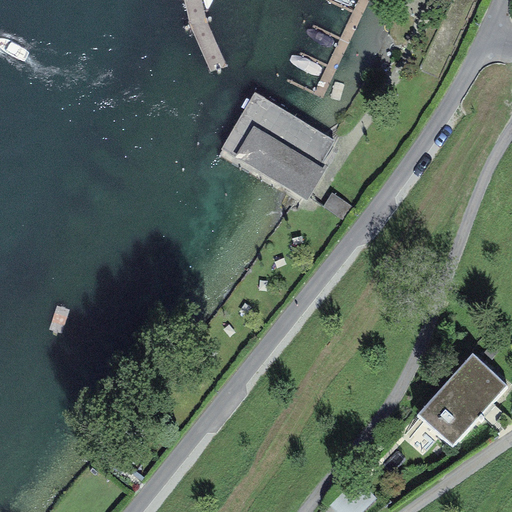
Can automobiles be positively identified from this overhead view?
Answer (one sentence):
Yes, the picture does show an automobile.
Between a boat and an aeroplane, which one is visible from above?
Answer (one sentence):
The image shows a boat.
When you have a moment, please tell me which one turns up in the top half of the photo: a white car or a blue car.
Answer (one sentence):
It is a blue car that can be seen in the top half of the photo.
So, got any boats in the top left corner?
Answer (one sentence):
Yes, I can see a boat in the top left corner.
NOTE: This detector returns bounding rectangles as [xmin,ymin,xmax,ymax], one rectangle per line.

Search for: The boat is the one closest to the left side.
[0,40,30,62]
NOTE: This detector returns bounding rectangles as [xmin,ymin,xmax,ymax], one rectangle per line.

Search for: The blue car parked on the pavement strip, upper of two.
[434,124,452,146]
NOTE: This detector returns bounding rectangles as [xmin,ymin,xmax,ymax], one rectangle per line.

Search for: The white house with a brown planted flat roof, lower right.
[418,354,506,446]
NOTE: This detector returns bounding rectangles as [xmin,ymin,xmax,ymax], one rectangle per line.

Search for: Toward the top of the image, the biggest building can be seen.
[221,92,334,206]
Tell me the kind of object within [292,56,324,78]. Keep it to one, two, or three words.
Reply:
boat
